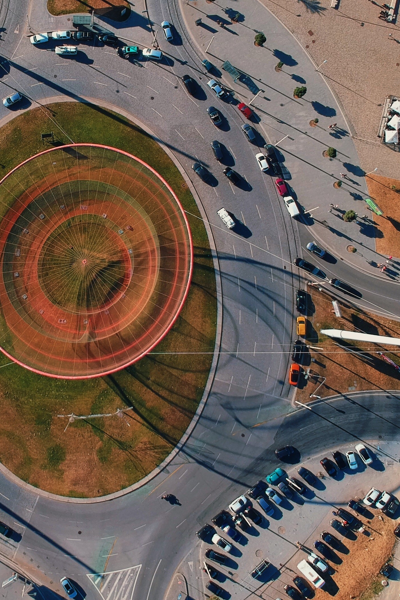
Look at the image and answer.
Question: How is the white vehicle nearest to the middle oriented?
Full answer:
I'd say the white vehicle nearest to the middle is aligned on a diagonal in the picture.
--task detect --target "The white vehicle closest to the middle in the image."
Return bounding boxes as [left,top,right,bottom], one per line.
[215,207,236,230]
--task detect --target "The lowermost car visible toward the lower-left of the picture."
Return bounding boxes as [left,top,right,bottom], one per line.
[60,579,74,596]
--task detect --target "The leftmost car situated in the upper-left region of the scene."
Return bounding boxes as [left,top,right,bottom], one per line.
[4,92,21,108]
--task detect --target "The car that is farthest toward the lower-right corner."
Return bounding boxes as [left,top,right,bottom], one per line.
[379,564,395,578]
